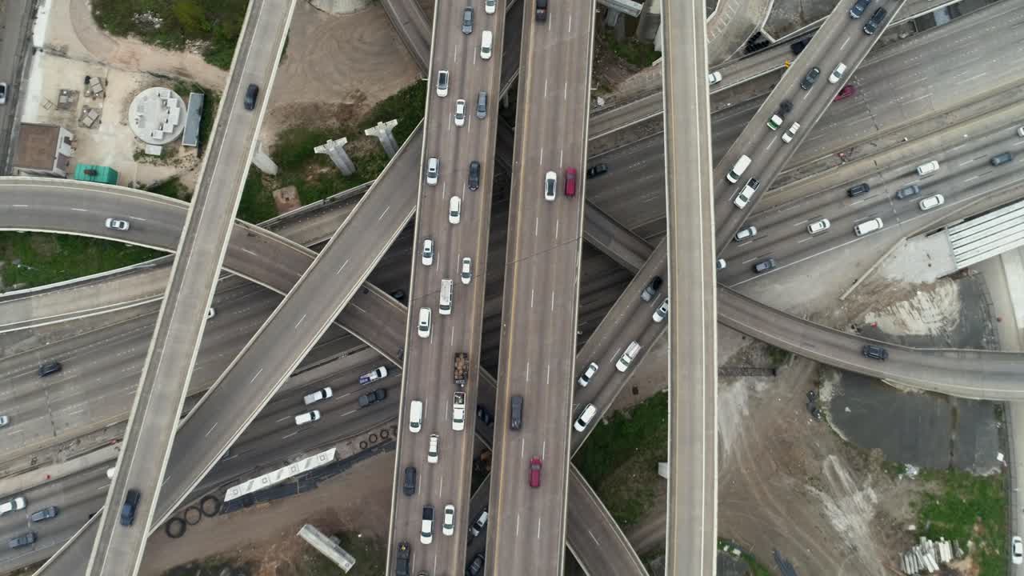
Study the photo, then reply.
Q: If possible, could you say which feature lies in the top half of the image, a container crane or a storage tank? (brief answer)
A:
storage tank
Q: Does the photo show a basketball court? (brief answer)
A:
No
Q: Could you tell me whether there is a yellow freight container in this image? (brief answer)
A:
No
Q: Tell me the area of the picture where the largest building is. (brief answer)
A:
top left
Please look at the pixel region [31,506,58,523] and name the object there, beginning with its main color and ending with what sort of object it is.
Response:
gray car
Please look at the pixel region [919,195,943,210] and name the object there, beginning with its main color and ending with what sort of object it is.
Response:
white car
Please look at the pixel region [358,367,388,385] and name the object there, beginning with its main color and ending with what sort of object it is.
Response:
white vehicle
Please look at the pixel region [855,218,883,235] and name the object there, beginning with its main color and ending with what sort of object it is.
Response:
white vehicle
